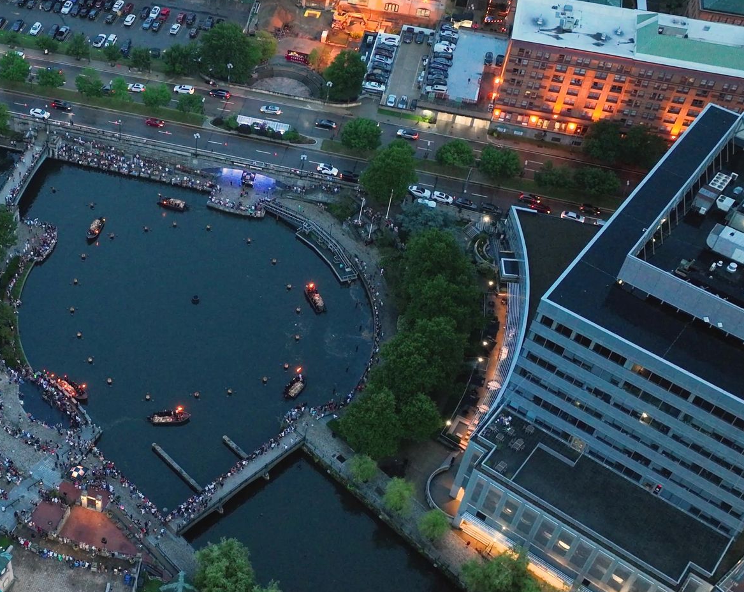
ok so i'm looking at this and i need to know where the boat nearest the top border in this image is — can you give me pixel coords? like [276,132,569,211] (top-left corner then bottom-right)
[158,191,190,210]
